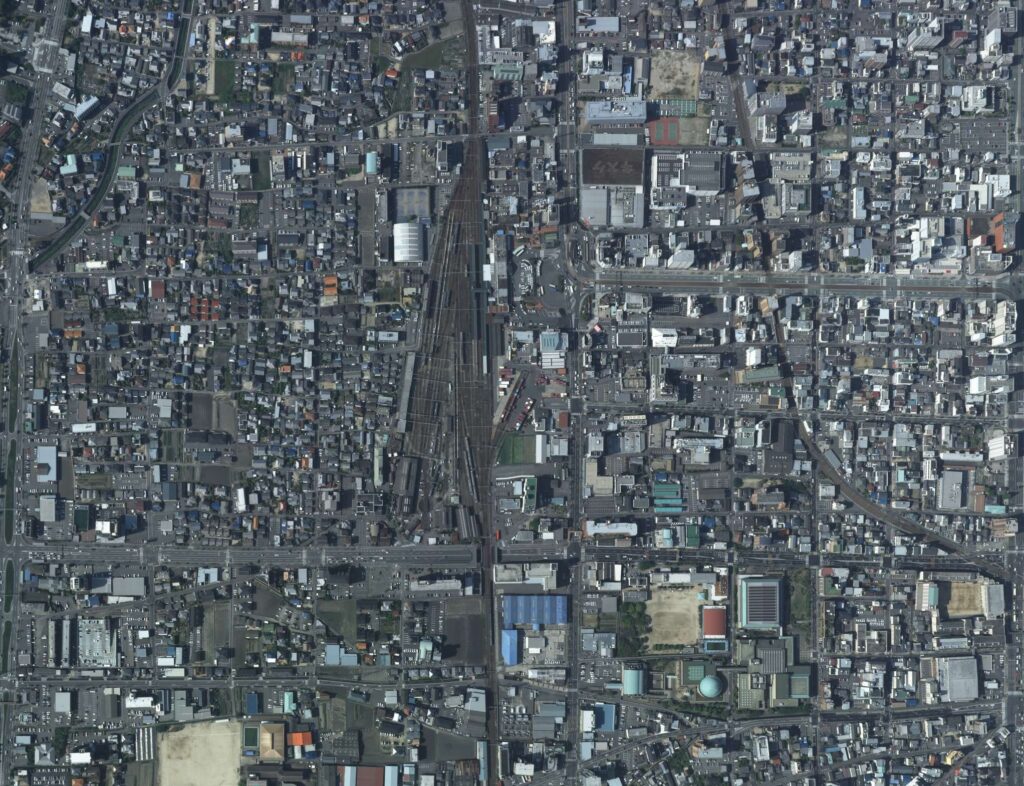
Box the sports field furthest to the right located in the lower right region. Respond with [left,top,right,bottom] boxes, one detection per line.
[939,584,977,618]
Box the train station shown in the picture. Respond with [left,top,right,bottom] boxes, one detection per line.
[461,165,509,397]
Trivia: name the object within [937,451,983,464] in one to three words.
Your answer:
building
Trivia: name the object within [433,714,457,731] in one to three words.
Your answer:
house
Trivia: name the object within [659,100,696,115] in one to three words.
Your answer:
sports court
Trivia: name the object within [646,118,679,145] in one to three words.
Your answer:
tennis court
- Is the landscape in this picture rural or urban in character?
urban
